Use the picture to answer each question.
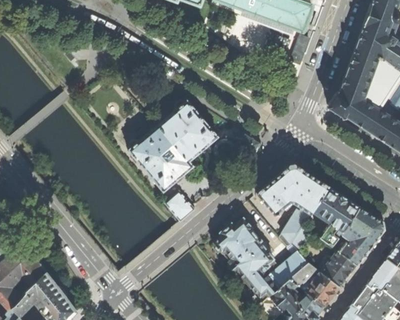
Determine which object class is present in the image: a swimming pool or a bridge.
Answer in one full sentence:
Visible in the photo is a bridge.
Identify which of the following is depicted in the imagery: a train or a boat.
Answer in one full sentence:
The image shows a train.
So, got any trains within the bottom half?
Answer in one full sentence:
No, no train appears within the bottom half.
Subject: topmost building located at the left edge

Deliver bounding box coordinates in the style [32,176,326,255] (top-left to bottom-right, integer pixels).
[0,254,42,290]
